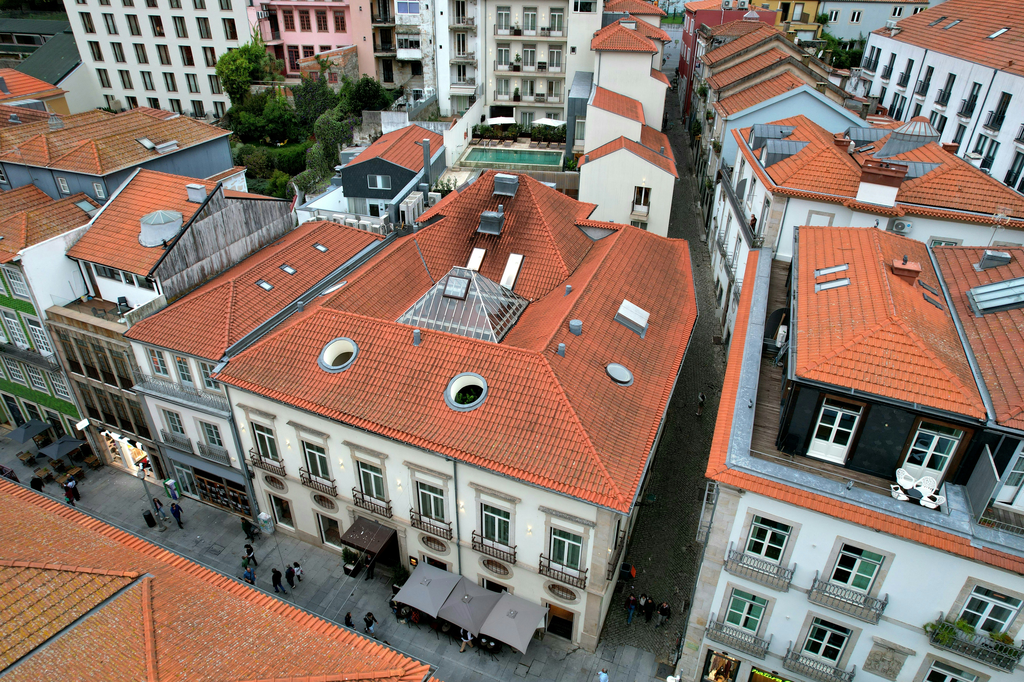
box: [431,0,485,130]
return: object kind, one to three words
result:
house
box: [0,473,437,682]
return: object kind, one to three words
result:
house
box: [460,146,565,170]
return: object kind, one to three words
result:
swimming pool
